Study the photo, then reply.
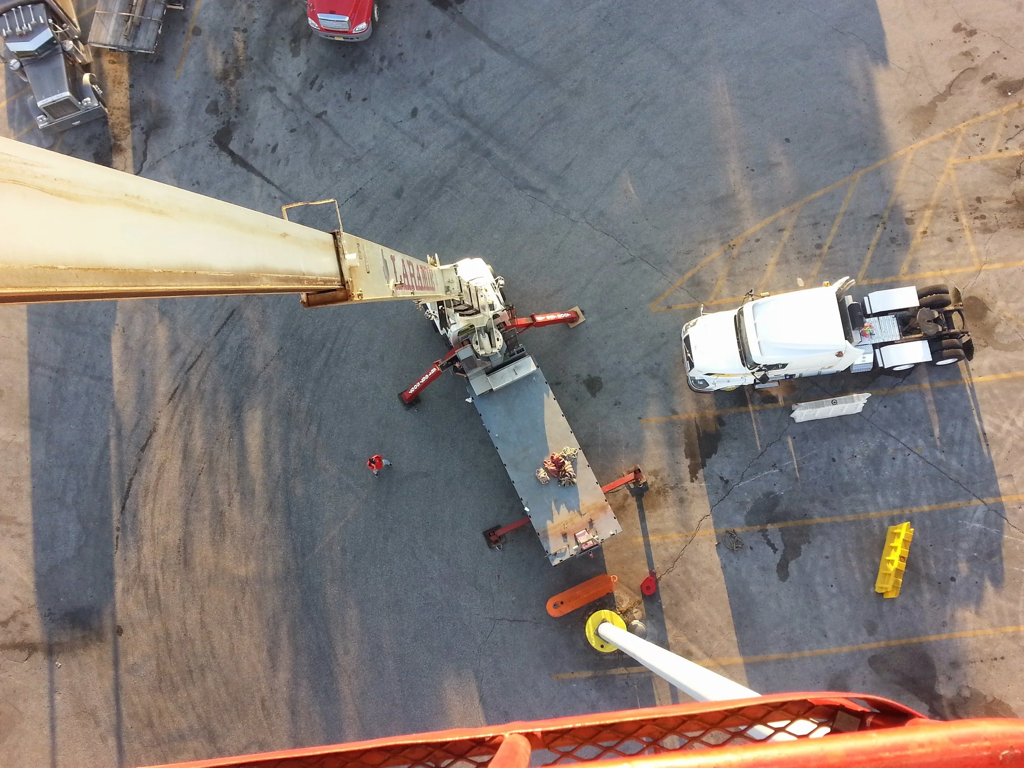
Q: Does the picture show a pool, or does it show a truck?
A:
truck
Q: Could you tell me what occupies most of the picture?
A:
paved ground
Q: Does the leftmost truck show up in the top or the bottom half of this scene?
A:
top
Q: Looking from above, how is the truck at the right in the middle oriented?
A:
from side to side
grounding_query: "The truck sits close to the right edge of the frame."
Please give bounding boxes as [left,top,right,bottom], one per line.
[671,276,974,396]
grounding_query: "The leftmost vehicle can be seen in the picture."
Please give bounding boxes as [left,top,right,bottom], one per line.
[0,0,111,133]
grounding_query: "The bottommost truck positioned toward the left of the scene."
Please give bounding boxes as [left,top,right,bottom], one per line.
[0,121,643,567]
